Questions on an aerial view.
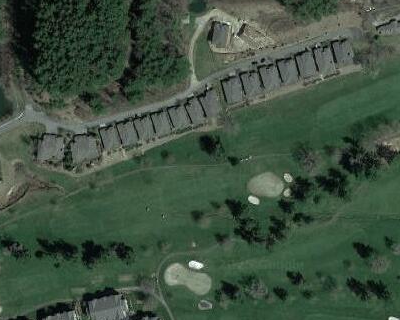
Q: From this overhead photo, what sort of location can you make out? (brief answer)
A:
golf course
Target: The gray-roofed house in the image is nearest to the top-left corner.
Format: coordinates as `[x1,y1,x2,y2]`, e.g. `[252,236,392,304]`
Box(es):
[40,136,65,162]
